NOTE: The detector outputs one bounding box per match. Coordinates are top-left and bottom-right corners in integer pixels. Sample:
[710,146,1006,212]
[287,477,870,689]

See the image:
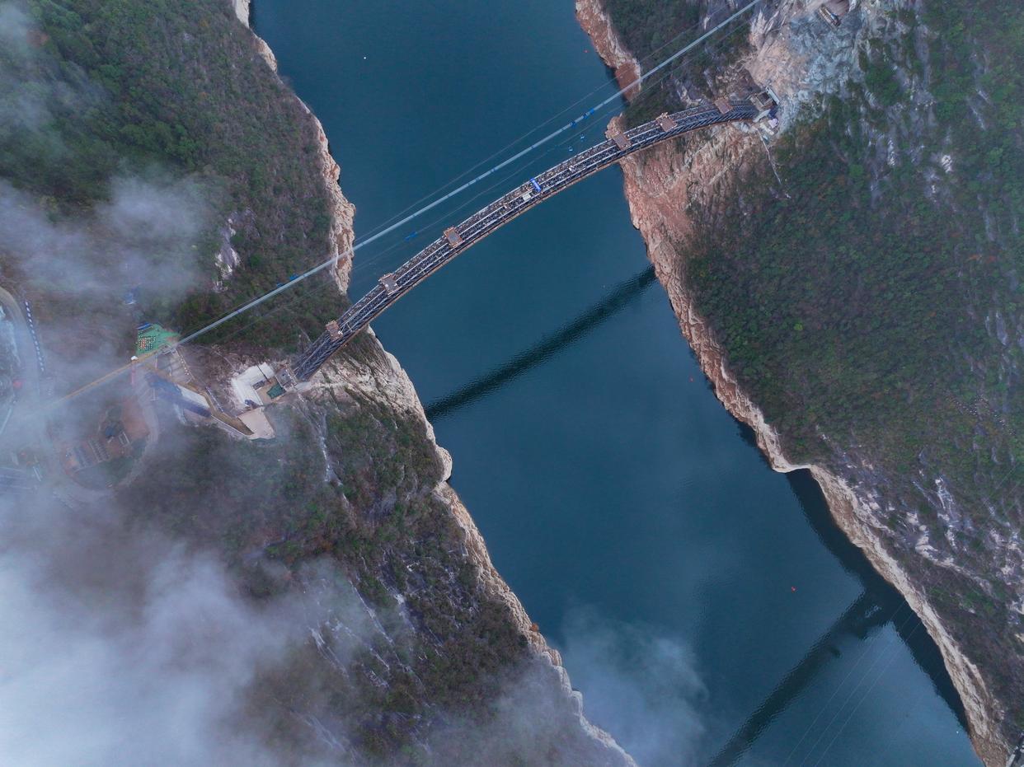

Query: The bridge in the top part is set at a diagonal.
[291,92,764,395]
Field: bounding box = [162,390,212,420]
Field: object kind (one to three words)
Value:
shed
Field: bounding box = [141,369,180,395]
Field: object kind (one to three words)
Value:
shed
